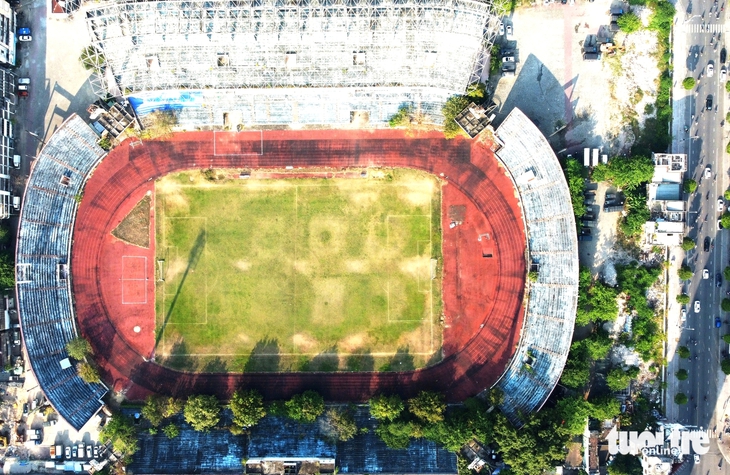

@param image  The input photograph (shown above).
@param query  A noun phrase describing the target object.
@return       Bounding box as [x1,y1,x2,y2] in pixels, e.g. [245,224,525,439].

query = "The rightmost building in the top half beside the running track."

[452,100,497,143]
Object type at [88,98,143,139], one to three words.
building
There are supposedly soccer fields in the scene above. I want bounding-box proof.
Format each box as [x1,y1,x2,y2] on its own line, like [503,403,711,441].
[155,171,442,371]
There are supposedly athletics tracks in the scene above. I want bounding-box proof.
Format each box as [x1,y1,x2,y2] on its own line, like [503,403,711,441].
[75,131,526,401]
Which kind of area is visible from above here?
sports ground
